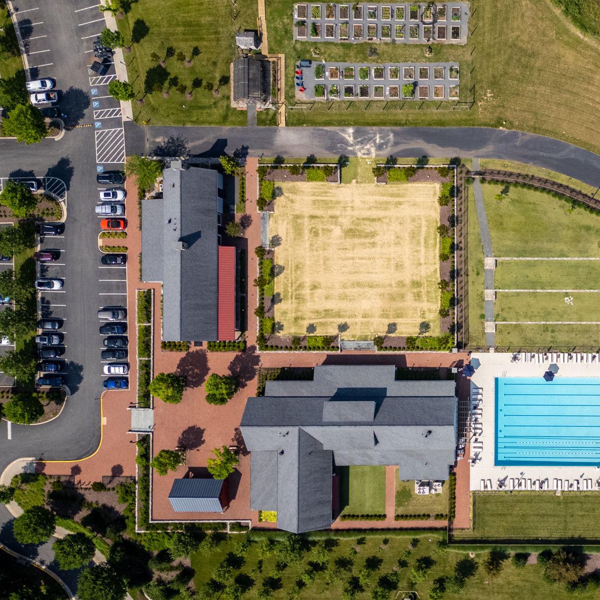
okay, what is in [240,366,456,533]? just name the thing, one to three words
building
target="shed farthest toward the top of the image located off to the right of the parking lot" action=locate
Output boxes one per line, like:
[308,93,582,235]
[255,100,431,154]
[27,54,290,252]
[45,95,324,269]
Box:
[237,32,258,49]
